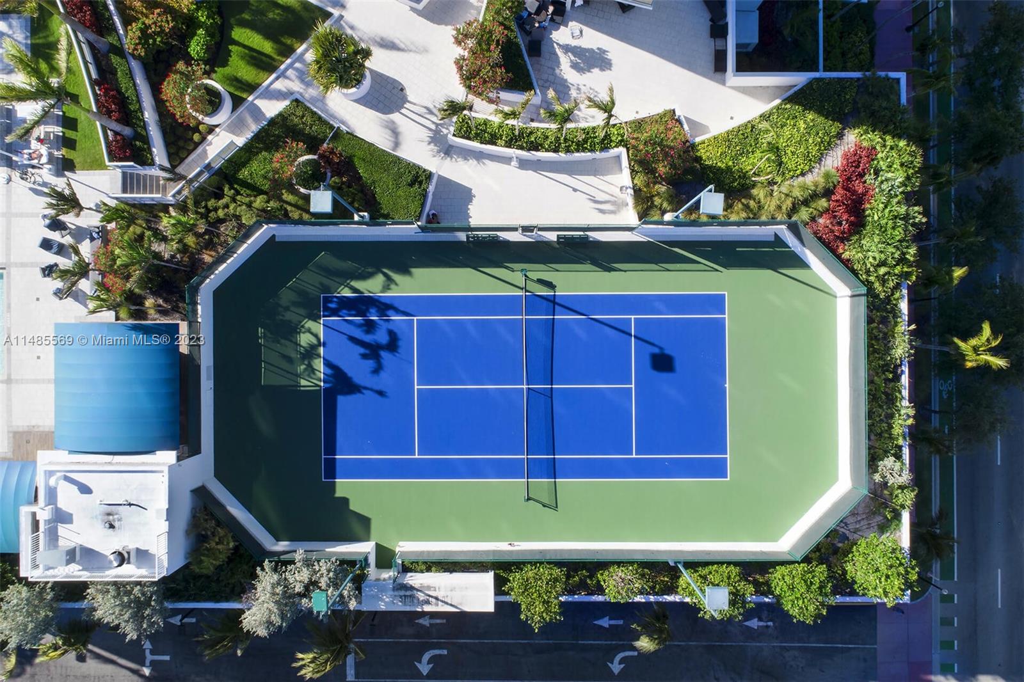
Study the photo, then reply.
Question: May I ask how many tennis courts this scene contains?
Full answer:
Just 1 tennis court appears in this view.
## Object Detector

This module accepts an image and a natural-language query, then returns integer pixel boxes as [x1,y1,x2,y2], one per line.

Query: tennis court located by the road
[213,229,839,571]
